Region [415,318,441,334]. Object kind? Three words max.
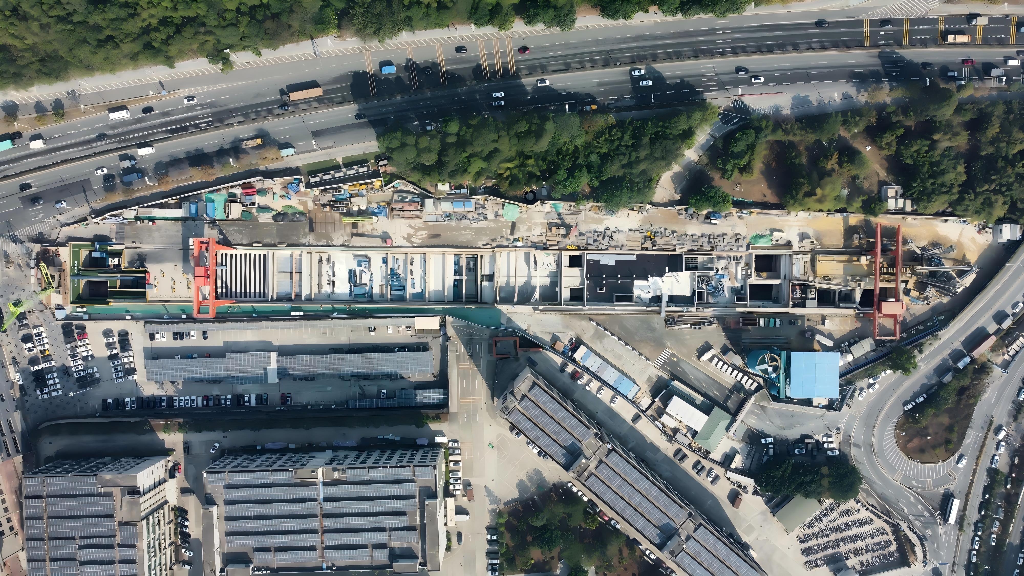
building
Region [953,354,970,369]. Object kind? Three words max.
vehicle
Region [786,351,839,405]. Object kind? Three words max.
shed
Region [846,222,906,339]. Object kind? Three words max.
container crane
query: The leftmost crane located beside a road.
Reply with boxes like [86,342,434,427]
[0,248,57,329]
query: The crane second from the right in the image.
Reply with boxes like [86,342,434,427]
[193,238,247,318]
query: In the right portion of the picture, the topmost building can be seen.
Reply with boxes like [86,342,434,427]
[873,186,912,212]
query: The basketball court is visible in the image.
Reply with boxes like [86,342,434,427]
[480,434,556,505]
